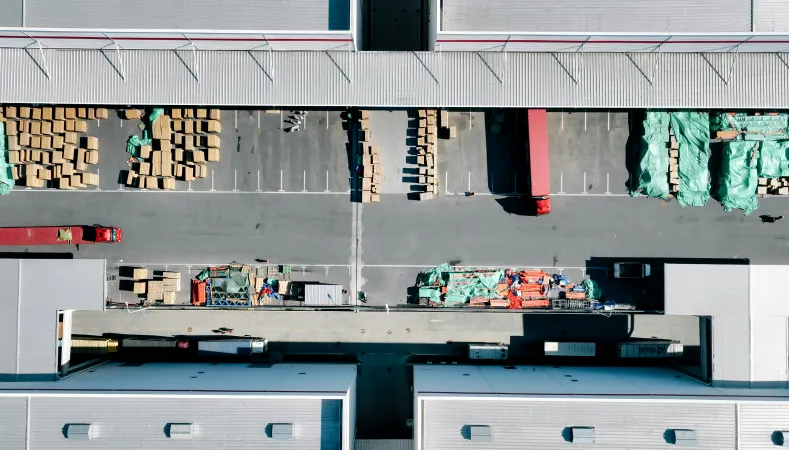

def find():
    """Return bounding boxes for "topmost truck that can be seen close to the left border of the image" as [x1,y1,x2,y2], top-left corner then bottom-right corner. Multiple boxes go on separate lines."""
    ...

[0,226,126,247]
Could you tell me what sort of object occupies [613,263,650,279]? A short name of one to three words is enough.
vehicle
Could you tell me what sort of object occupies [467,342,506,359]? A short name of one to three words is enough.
vehicle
